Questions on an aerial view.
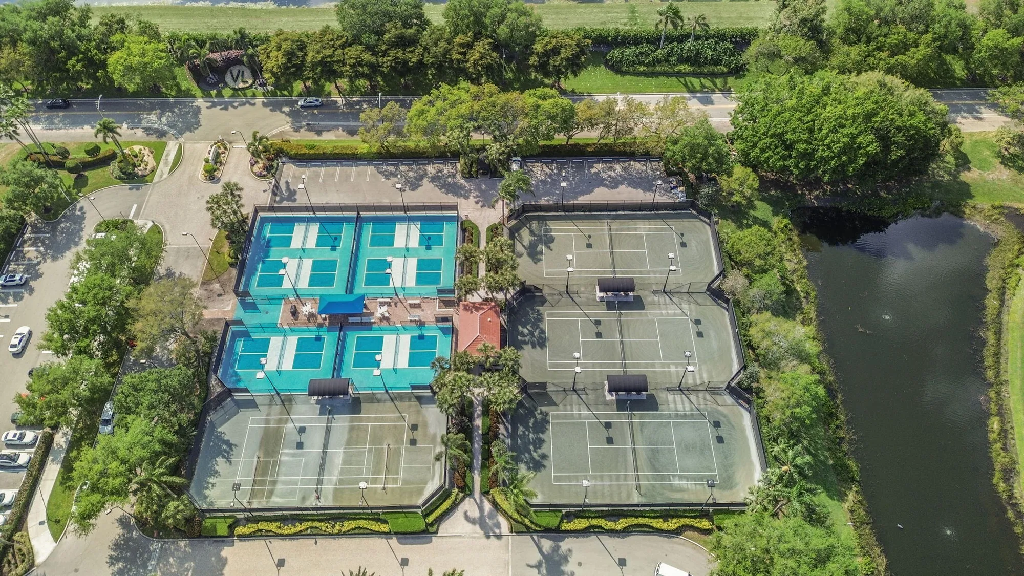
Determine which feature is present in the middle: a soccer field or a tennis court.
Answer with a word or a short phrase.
tennis court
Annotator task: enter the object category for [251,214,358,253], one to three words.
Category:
sports court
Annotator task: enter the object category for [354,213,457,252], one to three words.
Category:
sports court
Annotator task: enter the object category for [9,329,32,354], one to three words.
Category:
car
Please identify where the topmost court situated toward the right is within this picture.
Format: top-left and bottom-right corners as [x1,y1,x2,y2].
[512,212,722,291]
